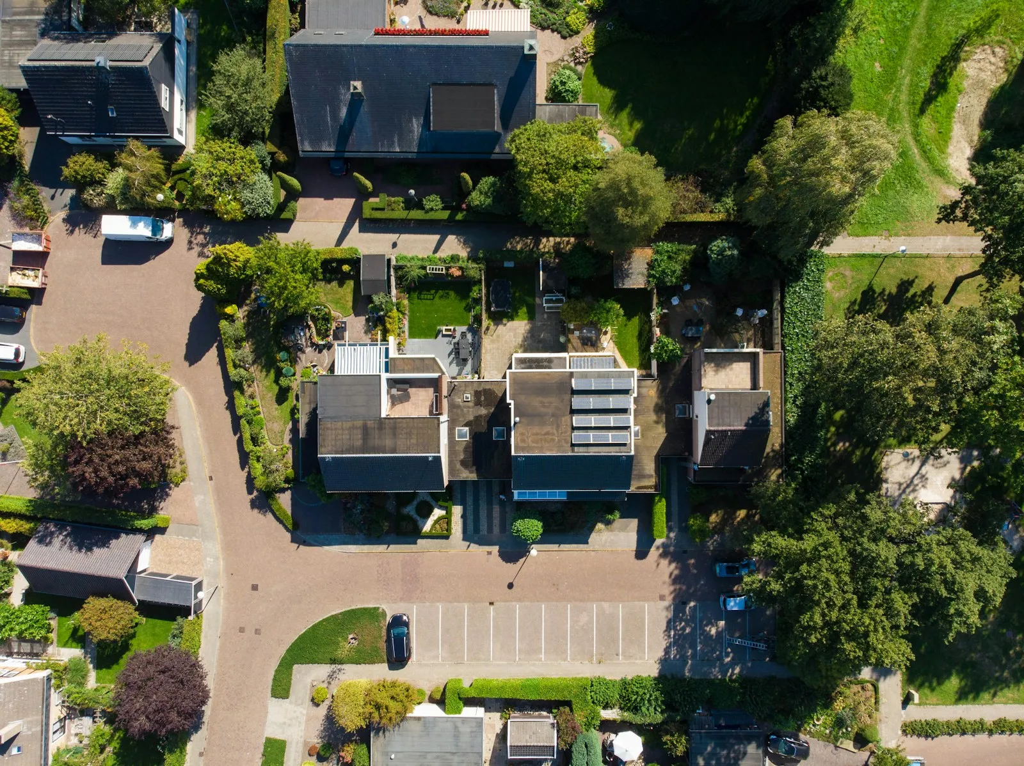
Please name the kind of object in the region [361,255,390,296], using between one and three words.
shed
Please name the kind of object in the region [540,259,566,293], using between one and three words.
shed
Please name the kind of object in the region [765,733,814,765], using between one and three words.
car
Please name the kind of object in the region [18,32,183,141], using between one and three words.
house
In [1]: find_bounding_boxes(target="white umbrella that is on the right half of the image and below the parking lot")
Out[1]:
[611,729,640,759]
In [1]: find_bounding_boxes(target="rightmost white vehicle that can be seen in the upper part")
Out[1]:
[101,215,173,243]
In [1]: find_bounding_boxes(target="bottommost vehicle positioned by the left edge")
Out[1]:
[0,342,21,363]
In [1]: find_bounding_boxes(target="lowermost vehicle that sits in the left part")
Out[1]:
[383,615,409,666]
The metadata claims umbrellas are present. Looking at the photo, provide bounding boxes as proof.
[399,17,411,27]
[611,729,640,759]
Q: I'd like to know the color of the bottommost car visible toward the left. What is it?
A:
black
